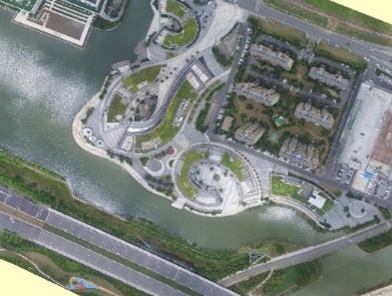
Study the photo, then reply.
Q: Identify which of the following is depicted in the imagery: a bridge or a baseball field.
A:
bridge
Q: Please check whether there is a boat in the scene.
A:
No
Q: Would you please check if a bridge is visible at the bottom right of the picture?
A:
Yes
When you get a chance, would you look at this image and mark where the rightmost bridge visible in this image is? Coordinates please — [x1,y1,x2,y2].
[296,230,365,262]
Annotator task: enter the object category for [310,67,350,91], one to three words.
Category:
building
